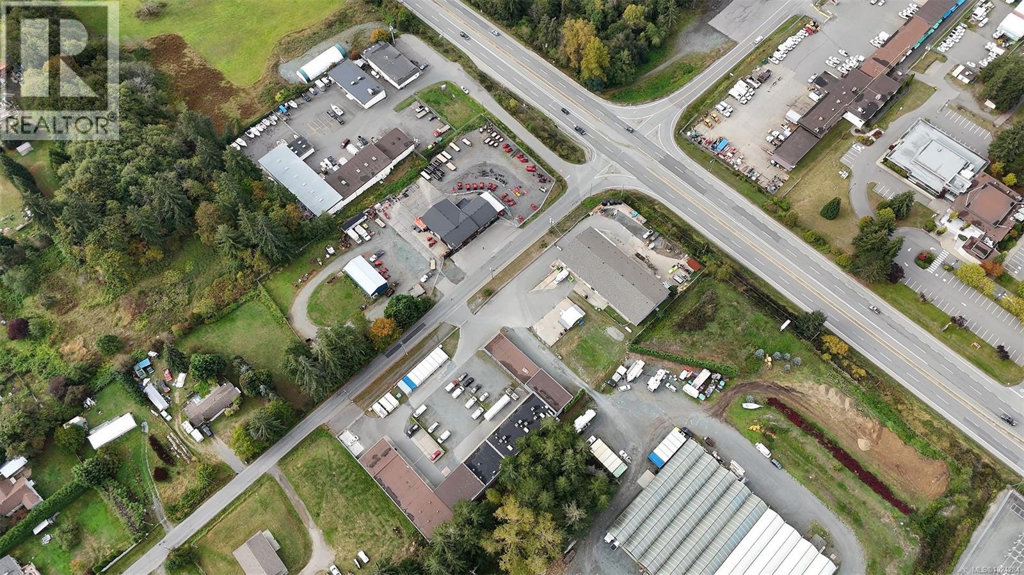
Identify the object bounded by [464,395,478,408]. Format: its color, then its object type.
white vehicle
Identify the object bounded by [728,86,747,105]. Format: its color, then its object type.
white vehicle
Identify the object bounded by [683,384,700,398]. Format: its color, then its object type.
white camper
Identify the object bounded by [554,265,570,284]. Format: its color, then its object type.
white camper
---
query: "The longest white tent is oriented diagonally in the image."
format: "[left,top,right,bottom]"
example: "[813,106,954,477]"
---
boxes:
[296,40,348,82]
